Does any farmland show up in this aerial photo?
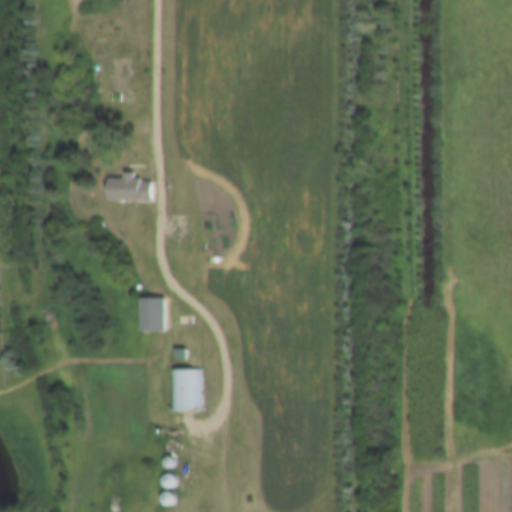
Yes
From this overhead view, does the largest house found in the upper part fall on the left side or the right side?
left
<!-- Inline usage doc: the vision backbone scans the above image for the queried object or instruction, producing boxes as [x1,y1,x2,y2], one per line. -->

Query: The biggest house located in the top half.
[104,172,156,204]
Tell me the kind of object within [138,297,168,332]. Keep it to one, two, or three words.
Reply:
shed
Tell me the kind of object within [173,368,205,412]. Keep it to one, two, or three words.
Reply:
barn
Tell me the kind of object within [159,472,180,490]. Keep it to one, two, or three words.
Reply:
silo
